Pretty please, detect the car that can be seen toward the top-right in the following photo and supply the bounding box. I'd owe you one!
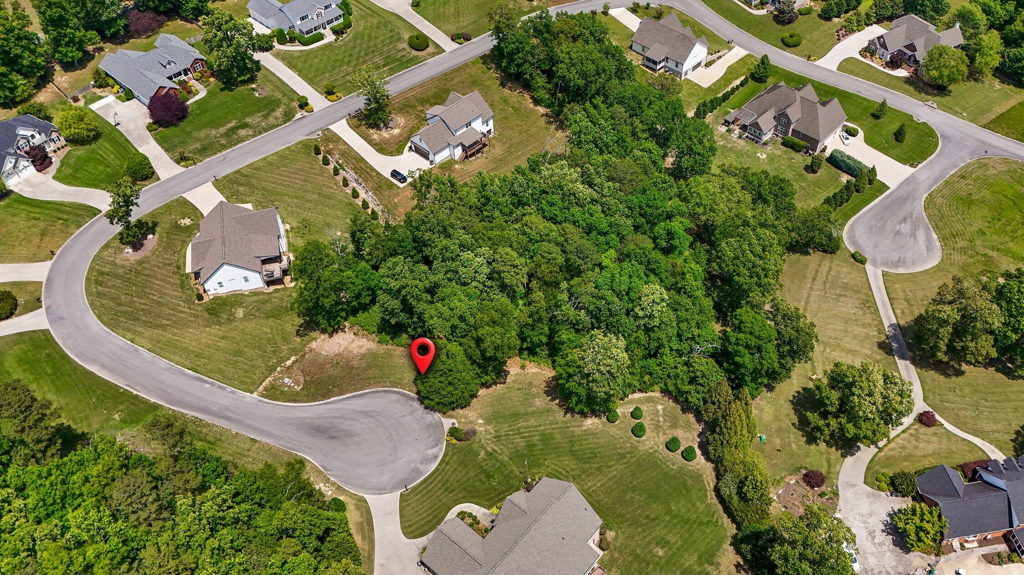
[839,129,854,145]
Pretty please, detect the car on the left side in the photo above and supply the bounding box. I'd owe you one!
[389,166,408,183]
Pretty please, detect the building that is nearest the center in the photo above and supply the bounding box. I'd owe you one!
[408,89,495,164]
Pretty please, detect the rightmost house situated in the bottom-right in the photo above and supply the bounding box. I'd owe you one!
[914,451,1024,558]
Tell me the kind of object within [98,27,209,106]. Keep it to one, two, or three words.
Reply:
house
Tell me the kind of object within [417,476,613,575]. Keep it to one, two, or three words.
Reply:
house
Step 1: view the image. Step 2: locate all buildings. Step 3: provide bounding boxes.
[98,27,209,106]
[914,451,1024,558]
[417,476,613,575]
[864,14,965,75]
[630,12,708,82]
[408,89,495,164]
[0,112,68,185]
[712,79,847,152]
[187,199,293,297]
[247,0,344,37]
